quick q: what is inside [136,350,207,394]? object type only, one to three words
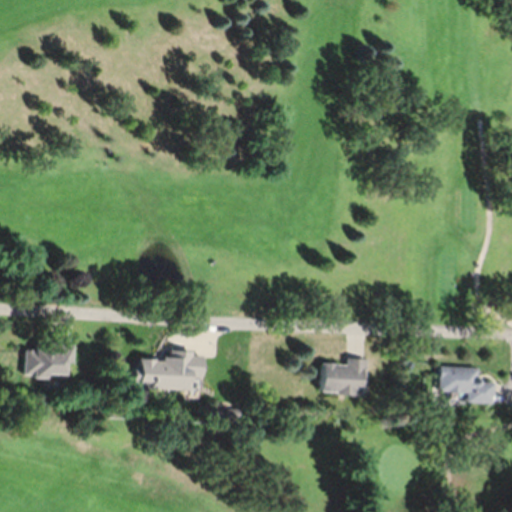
house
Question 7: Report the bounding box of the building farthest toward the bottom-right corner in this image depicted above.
[440,366,496,405]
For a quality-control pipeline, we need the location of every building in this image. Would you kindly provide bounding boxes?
[136,350,207,394]
[440,366,496,405]
[25,338,77,381]
[322,358,368,398]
